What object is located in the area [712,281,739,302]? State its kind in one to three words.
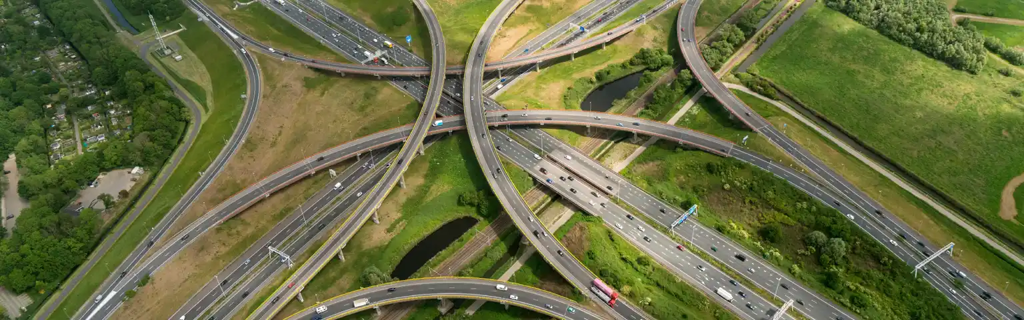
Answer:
truck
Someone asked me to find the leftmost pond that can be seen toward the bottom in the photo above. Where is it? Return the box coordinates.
[391,216,477,279]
